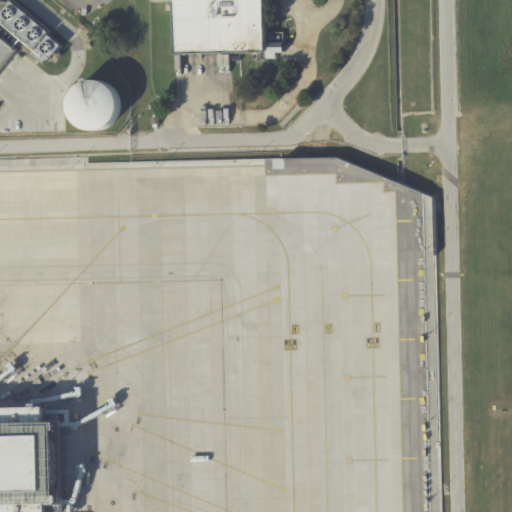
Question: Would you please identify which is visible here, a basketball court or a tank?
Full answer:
Looking from above, you can make out a tank.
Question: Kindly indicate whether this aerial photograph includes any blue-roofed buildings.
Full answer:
No, the picture doesn't show any blue-roofed building.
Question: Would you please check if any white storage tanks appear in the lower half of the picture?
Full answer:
No, no white storage tank can be made out in the lower half of the picture.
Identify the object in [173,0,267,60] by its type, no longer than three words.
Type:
building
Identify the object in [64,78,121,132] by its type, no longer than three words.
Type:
storage tank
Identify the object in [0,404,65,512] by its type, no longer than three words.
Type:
building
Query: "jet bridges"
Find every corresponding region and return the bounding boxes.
[52,459,86,506]
[28,387,82,407]
[0,361,15,381]
[64,502,74,512]
[46,396,116,428]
